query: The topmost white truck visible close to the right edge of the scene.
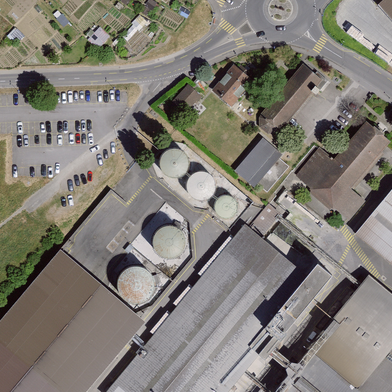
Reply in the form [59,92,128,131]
[342,21,376,52]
